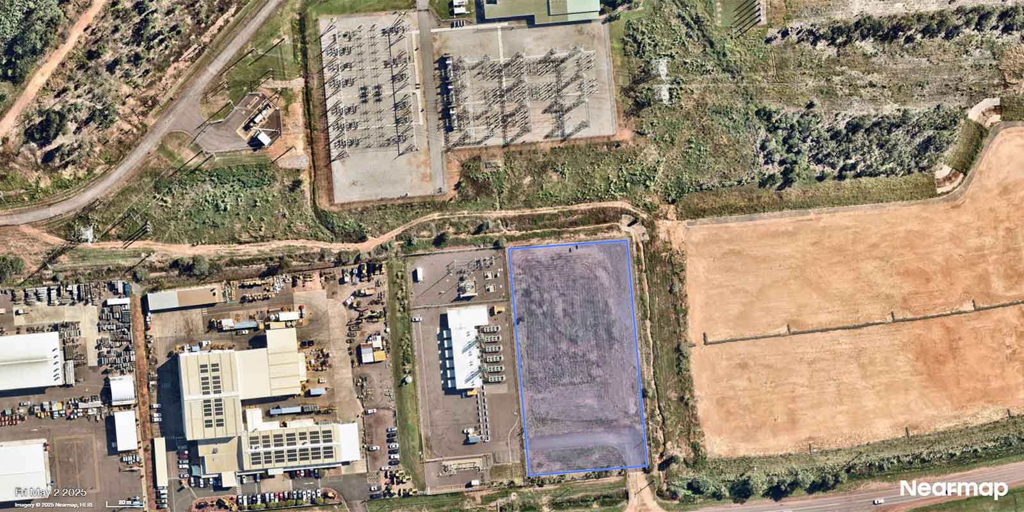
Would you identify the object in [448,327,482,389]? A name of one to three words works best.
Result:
building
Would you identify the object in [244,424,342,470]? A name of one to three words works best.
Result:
building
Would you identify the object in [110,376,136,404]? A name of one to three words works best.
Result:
shed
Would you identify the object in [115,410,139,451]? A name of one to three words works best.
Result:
shed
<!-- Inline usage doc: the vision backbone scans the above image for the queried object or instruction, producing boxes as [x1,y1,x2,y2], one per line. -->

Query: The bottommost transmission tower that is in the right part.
[658,81,673,106]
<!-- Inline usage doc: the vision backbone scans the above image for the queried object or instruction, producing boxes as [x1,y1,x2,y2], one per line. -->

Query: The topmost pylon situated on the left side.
[79,225,95,243]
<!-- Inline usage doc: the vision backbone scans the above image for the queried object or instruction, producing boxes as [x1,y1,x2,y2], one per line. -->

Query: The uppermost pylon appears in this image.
[656,54,671,81]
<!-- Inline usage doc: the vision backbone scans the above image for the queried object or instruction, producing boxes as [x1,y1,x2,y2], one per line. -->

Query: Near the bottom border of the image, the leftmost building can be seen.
[0,438,54,501]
